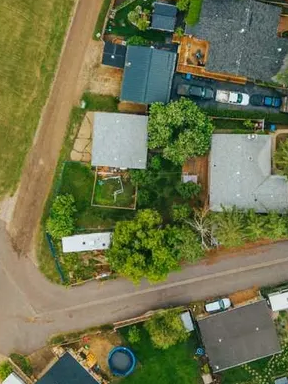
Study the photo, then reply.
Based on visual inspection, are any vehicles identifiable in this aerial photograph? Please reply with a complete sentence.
Yes, the frame does contain a vehicle.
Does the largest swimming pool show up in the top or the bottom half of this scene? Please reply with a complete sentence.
Seen from above, the largest swimming pool lies in the bottom half of the view.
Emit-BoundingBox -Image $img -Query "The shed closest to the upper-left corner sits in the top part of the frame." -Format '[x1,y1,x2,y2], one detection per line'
[99,43,126,68]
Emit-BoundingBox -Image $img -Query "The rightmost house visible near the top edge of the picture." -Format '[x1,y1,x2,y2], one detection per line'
[185,0,288,83]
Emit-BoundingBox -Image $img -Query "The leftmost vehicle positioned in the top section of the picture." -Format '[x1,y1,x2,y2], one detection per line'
[177,83,213,100]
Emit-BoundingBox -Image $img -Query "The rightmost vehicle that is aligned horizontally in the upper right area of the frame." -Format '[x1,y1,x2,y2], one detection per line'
[250,93,282,109]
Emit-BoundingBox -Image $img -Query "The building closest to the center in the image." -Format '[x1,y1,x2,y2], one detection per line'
[90,112,148,169]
